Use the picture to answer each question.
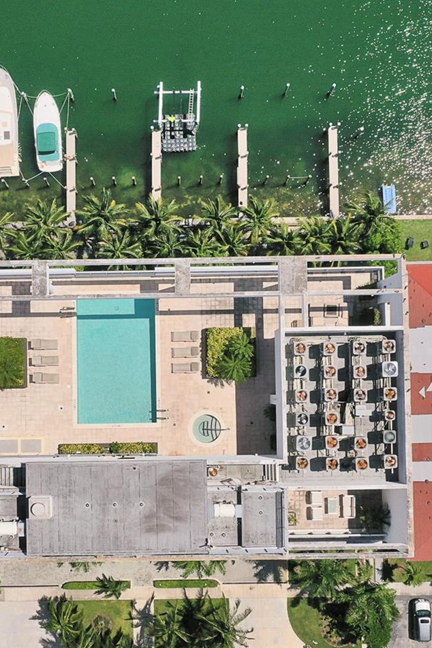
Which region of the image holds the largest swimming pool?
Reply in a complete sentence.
The largest swimming pool is in the left part of the image.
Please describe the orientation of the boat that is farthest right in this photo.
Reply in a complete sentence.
What the image shows is the boat that is farthest right lying vertically.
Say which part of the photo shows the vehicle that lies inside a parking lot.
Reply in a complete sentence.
Look in the bottom right portion of the view to spot the vehicle that lies inside a parking lot.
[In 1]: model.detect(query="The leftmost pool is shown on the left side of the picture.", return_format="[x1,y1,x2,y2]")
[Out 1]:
[65,293,168,429]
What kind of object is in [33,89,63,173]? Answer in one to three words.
boat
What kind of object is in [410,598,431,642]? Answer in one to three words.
vehicle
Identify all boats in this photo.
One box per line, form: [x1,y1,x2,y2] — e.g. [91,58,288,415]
[33,89,63,173]
[0,67,21,180]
